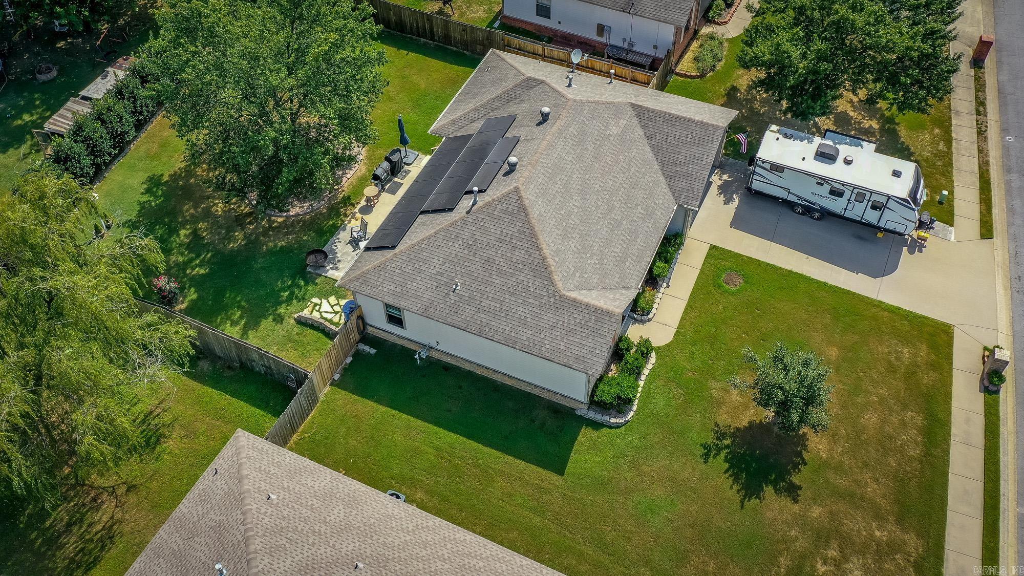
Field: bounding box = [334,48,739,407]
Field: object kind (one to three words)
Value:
house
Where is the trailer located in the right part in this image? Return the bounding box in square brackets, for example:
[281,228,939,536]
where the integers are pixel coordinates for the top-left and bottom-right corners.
[744,125,946,240]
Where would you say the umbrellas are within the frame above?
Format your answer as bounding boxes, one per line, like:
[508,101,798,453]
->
[402,114,424,166]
